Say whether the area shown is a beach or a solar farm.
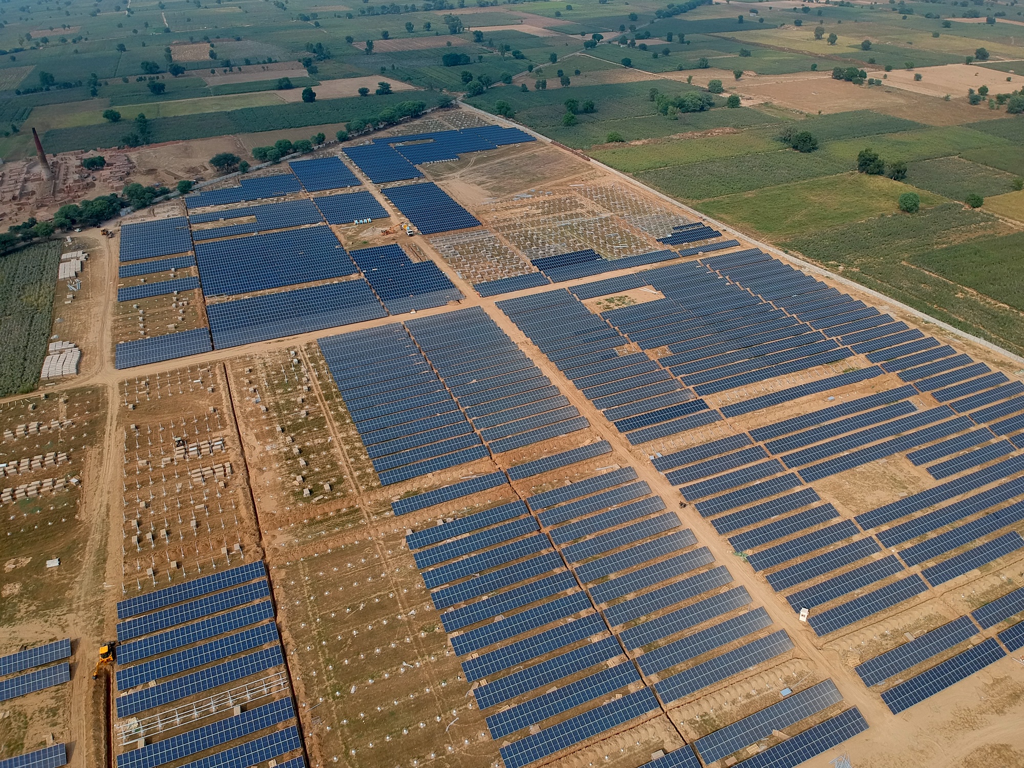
solar farm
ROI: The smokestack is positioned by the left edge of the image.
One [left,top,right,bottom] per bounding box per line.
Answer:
[31,127,58,182]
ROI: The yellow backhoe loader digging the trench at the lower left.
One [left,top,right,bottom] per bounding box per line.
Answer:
[92,642,114,681]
